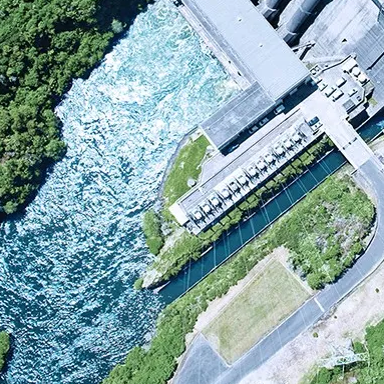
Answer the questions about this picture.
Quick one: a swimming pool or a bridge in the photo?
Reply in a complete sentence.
I can see a bridge in this picture.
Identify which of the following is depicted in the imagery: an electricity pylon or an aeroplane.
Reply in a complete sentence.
Looking from above, you can make out an electricity pylon.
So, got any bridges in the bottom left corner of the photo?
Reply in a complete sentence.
No, there is no bridge in the bottom left corner of the photo.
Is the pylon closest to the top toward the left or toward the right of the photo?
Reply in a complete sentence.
It is on the right.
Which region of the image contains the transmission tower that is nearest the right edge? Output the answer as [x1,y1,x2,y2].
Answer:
[311,335,360,376]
